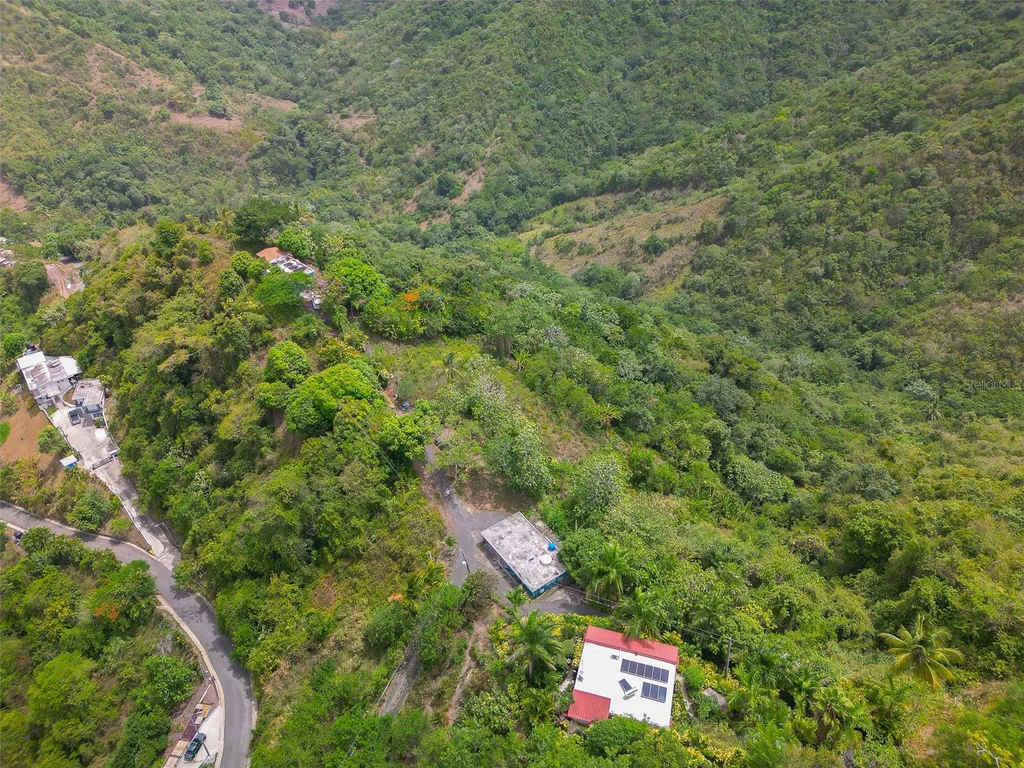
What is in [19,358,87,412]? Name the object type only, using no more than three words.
house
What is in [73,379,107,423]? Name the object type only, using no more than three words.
house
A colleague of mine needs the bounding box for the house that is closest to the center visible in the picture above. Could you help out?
[479,512,566,595]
